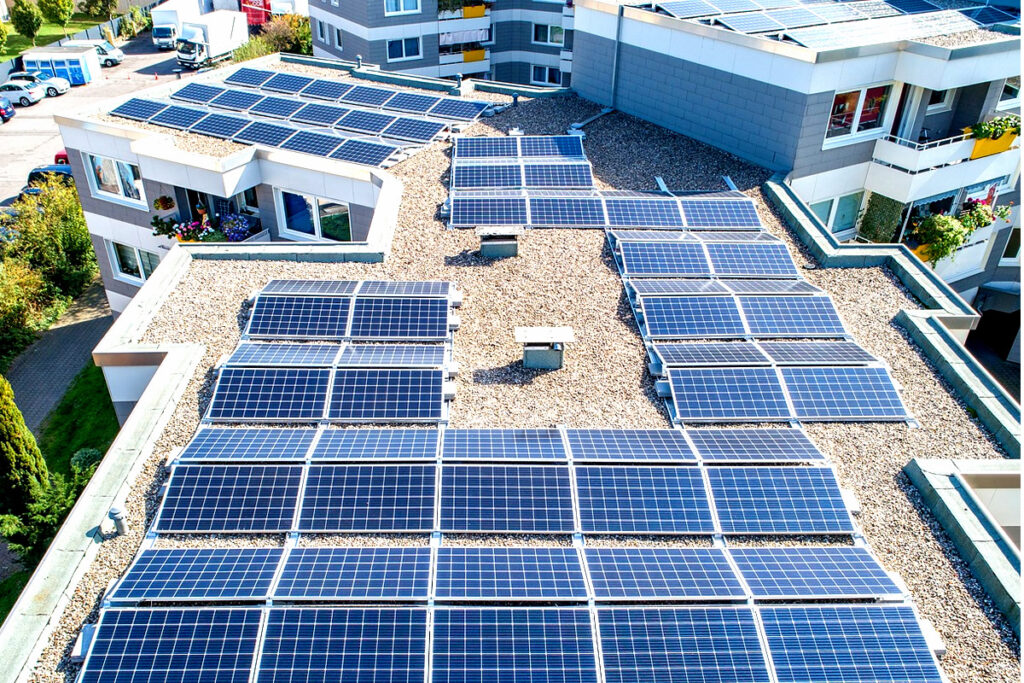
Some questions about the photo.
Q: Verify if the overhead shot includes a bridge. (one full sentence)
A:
No, there appears to be no bridge in this shot.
